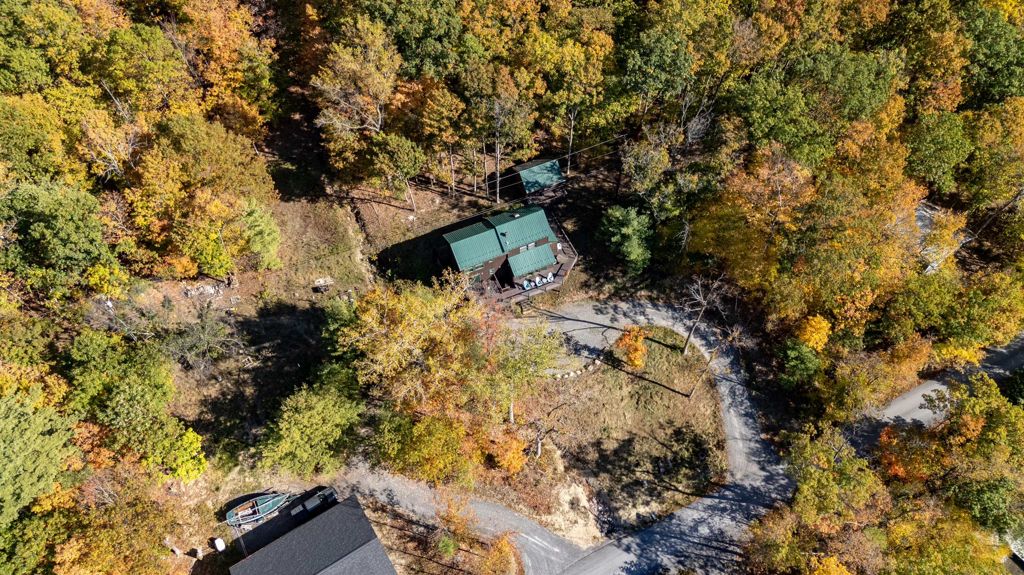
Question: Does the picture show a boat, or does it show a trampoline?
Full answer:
Visible in the photo is a boat.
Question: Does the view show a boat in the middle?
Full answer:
No, I see no boat in the middle.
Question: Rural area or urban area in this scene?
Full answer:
This place is rural.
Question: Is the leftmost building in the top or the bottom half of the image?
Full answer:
Seen from above, the leftmost building lies in the bottom half of the view.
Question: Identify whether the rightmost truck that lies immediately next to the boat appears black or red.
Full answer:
In this view, the rightmost truck that lies immediately next to the boat is black.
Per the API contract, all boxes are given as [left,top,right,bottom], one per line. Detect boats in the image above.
[214,490,299,527]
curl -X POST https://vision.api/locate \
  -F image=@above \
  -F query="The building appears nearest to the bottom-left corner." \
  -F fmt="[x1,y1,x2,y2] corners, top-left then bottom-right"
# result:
[229,494,400,575]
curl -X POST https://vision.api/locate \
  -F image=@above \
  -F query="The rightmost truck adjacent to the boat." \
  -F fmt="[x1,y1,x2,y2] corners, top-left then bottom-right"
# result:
[288,485,342,525]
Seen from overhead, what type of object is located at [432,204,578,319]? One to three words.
house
